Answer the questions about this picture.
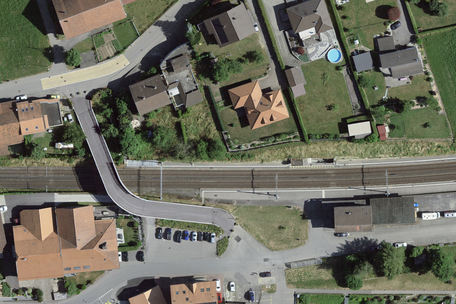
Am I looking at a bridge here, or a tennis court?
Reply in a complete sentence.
Visible in the photo is a bridge.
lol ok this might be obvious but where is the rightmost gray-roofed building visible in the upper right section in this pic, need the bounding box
[377,36,424,78]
